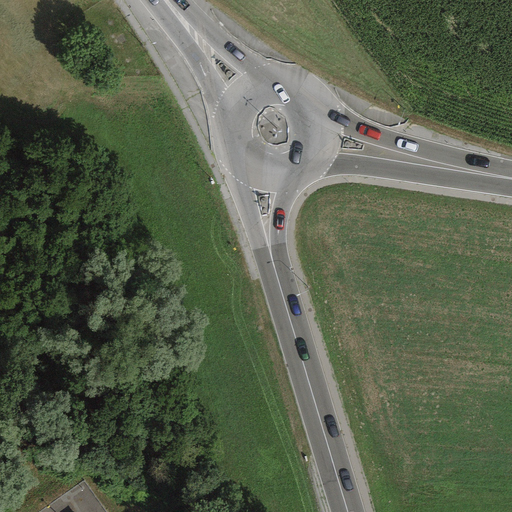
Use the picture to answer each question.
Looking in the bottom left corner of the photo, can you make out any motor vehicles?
No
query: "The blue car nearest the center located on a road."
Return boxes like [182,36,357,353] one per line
[289,294,301,316]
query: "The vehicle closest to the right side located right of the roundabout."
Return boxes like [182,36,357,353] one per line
[466,154,490,167]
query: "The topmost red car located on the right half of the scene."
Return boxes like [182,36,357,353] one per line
[359,125,382,138]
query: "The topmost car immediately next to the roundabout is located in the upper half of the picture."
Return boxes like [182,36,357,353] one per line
[224,41,246,60]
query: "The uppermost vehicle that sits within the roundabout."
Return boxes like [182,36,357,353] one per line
[274,83,291,104]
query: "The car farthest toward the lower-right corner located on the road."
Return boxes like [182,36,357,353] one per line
[340,468,353,492]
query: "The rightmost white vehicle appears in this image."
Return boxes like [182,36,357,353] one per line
[396,138,420,152]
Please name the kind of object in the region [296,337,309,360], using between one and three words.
vehicle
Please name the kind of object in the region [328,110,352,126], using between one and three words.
car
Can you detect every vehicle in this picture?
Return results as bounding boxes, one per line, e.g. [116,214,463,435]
[296,337,309,360]
[172,0,190,10]
[289,294,301,316]
[224,41,246,60]
[292,140,302,164]
[328,110,352,126]
[326,414,338,438]
[466,154,490,167]
[274,83,291,104]
[359,125,382,138]
[396,138,420,152]
[276,208,286,230]
[340,468,353,492]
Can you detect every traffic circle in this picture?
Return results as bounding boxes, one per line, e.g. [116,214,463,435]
[197,60,344,262]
